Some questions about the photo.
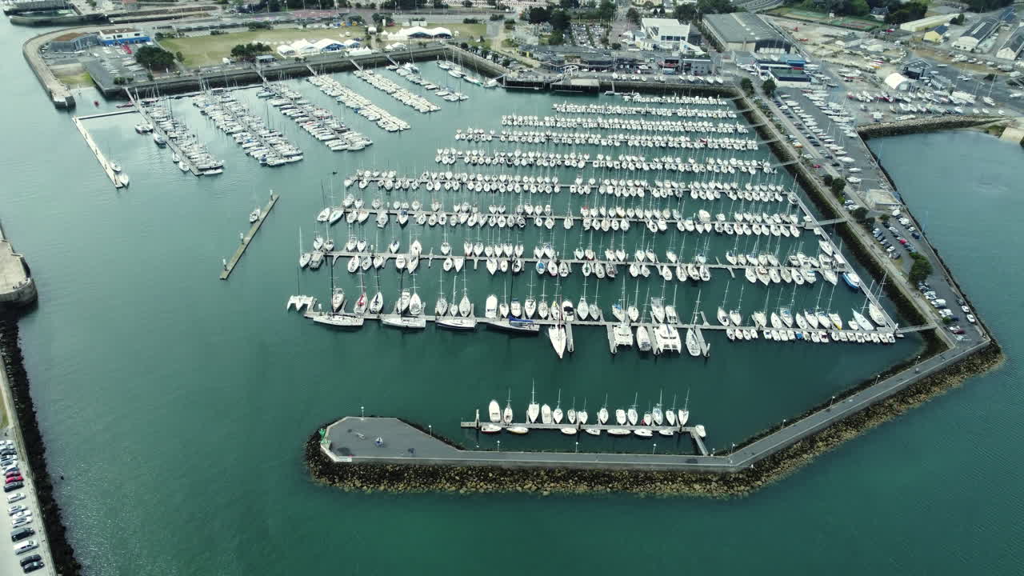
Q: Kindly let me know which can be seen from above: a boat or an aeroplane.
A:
boat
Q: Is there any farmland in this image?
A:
No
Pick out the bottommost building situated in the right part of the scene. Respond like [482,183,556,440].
[865,189,903,211]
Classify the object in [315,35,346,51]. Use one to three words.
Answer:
tent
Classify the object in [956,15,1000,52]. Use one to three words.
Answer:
hangar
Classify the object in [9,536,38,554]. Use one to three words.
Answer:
vehicle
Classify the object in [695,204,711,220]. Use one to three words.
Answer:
boat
